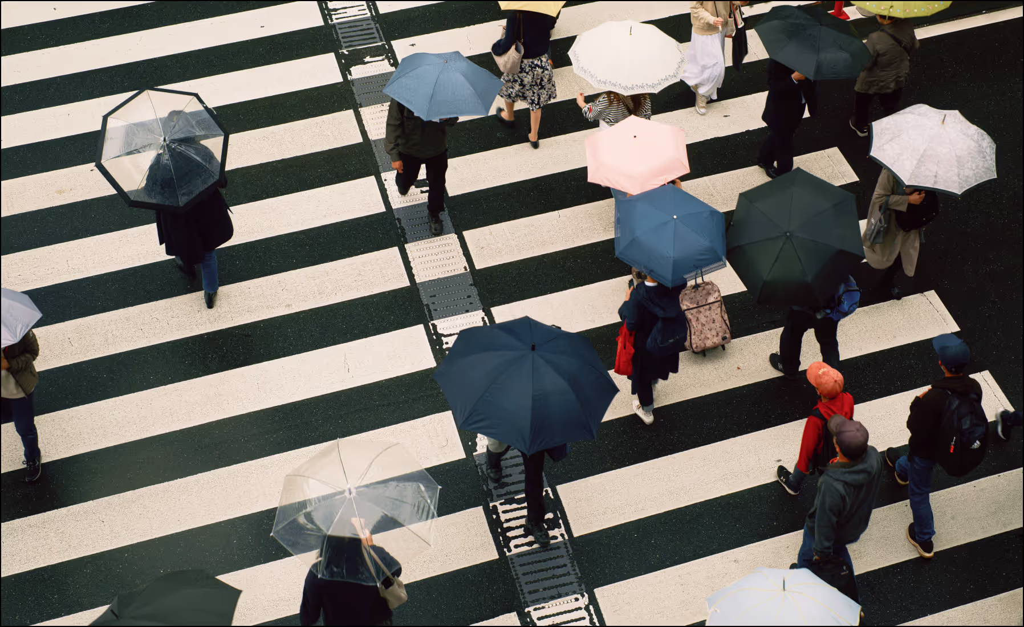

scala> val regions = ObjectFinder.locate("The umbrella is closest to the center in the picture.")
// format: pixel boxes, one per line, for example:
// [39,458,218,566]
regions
[431,314,619,456]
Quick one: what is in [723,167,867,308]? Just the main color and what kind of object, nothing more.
black umbrella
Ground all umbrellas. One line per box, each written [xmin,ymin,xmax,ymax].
[852,0,949,31]
[723,167,867,308]
[754,6,874,90]
[0,288,45,346]
[614,182,727,287]
[381,50,504,133]
[568,18,687,95]
[95,86,231,213]
[500,0,562,17]
[583,115,688,196]
[82,568,241,627]
[695,563,870,627]
[431,314,619,456]
[870,102,999,207]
